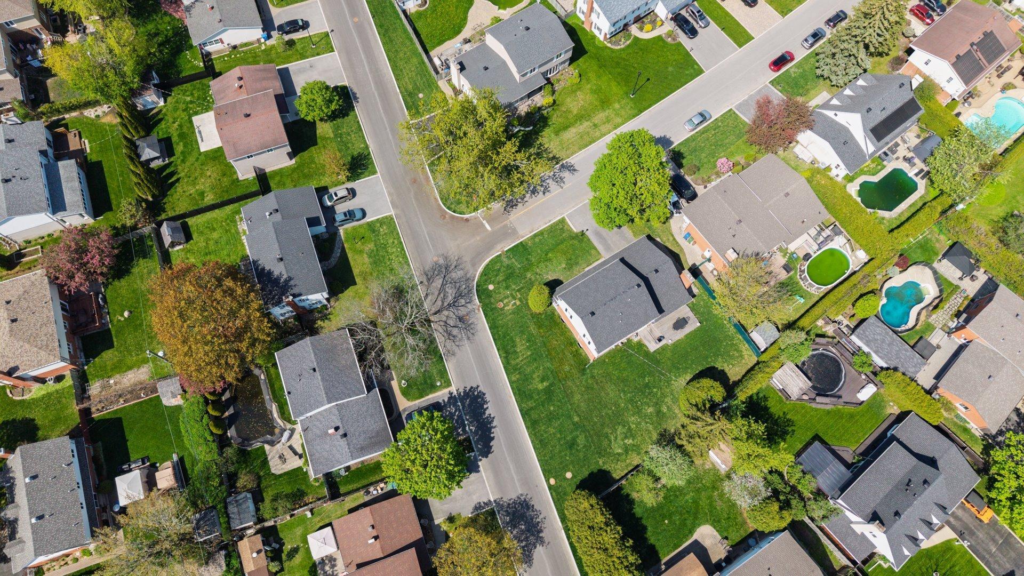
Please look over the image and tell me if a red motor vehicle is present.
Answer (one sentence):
Yes, the picture does show a red motor vehicle.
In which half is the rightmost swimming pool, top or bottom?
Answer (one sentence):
The top half of the photo is where the rightmost swimming pool is.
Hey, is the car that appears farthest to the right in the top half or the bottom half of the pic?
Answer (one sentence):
The car that appears farthest to the right is in the bottom half of the image.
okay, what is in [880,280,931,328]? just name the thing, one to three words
swimming pool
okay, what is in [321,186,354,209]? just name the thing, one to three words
car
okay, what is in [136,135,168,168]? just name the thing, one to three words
gazebo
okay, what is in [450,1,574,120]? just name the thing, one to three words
house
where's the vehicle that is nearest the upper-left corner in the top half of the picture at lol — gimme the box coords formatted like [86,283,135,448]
[276,18,306,37]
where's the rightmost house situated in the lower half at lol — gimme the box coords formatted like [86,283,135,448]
[929,284,1024,435]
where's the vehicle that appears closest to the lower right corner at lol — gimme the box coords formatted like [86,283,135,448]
[961,490,994,525]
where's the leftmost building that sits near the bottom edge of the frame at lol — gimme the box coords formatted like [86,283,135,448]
[0,436,108,572]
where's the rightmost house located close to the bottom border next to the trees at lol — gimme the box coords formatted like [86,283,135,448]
[817,412,981,572]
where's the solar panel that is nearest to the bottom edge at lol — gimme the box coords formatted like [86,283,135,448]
[871,100,916,142]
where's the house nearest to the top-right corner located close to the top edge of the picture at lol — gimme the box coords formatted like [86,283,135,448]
[896,0,1023,107]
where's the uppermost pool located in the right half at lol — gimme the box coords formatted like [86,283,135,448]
[965,96,1024,148]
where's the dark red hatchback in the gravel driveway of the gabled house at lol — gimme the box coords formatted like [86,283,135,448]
[909,4,935,26]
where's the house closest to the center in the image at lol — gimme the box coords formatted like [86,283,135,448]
[556,236,694,358]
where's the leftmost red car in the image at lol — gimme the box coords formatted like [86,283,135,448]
[768,51,795,73]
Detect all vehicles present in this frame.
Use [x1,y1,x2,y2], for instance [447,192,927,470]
[822,10,849,31]
[909,4,935,26]
[405,399,442,424]
[321,186,354,209]
[768,51,795,73]
[276,18,306,37]
[332,208,366,228]
[685,4,710,29]
[917,0,947,19]
[668,172,699,203]
[800,28,827,50]
[665,191,684,219]
[672,14,698,39]
[683,110,712,132]
[961,490,994,525]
